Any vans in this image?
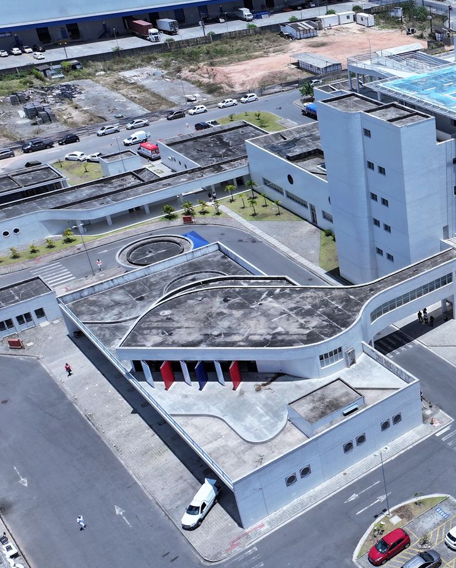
Yes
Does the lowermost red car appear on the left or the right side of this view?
right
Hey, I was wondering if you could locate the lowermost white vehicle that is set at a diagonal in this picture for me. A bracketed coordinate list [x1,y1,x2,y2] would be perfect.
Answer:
[178,472,229,526]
